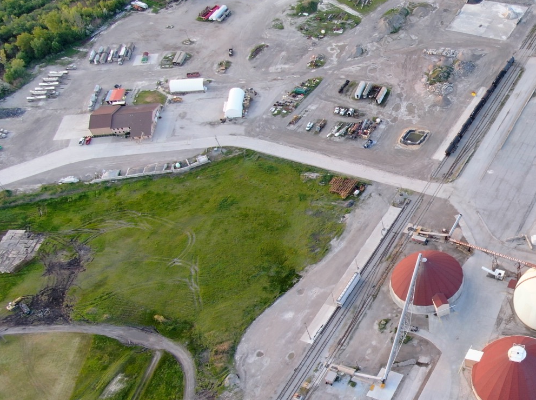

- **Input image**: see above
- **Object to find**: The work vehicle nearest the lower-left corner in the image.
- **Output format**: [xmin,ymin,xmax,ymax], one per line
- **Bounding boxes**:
[1,290,37,310]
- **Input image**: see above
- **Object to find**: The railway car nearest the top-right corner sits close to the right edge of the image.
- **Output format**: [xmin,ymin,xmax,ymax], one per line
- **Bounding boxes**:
[501,54,514,72]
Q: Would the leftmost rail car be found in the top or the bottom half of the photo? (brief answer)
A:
bottom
